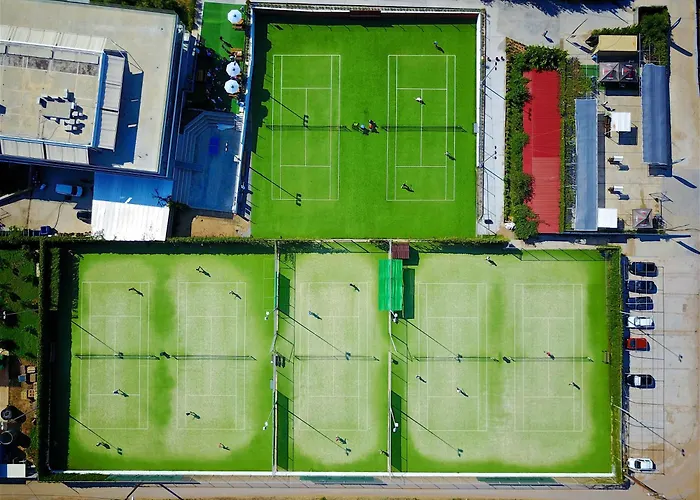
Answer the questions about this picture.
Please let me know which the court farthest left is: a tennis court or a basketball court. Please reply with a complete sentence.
What you see as the court farthest left is a tennis court.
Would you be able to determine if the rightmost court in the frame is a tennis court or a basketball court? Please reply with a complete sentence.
The rightmost court is a tennis court.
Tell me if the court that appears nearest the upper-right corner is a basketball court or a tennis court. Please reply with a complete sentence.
Specifically, the court that appears nearest the upper-right corner is a tennis court.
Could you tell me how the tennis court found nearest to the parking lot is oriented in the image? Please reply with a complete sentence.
Seen from above, the tennis court found nearest to the parking lot lies vertically.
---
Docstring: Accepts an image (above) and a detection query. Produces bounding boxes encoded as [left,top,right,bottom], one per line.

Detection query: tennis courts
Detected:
[297,280,371,433]
[416,280,489,434]
[511,281,585,434]
[79,280,152,432]
[270,52,343,202]
[174,280,248,432]
[386,52,458,203]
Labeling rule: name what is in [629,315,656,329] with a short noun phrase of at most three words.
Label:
vehicle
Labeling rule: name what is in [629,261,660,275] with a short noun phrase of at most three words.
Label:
vehicle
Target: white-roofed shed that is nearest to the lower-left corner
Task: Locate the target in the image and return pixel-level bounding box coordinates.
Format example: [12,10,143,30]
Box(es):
[8,460,31,477]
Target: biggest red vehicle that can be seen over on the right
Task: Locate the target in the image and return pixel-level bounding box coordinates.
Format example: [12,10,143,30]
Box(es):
[627,338,651,351]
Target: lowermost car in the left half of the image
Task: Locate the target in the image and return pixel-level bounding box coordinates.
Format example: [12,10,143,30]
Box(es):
[72,210,95,224]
